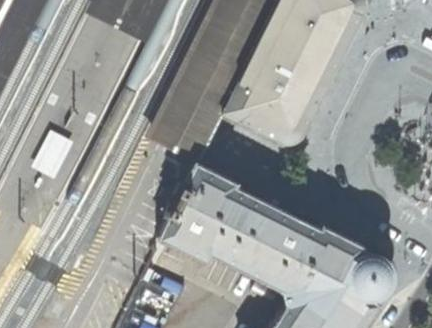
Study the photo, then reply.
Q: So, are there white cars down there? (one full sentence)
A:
Yes, I can see a white car in this picture.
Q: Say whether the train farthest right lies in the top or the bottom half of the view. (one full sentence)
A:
The train farthest right is in the top half of the image.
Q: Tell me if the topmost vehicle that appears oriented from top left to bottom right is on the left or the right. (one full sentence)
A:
The topmost vehicle that appears oriented from top left to bottom right is on the right side of the image.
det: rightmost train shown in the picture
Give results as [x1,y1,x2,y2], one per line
[64,0,185,202]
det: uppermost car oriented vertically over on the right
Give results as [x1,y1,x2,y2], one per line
[336,163,348,186]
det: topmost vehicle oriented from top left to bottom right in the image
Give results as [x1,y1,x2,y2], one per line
[379,222,404,242]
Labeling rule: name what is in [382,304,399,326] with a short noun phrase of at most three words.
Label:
car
